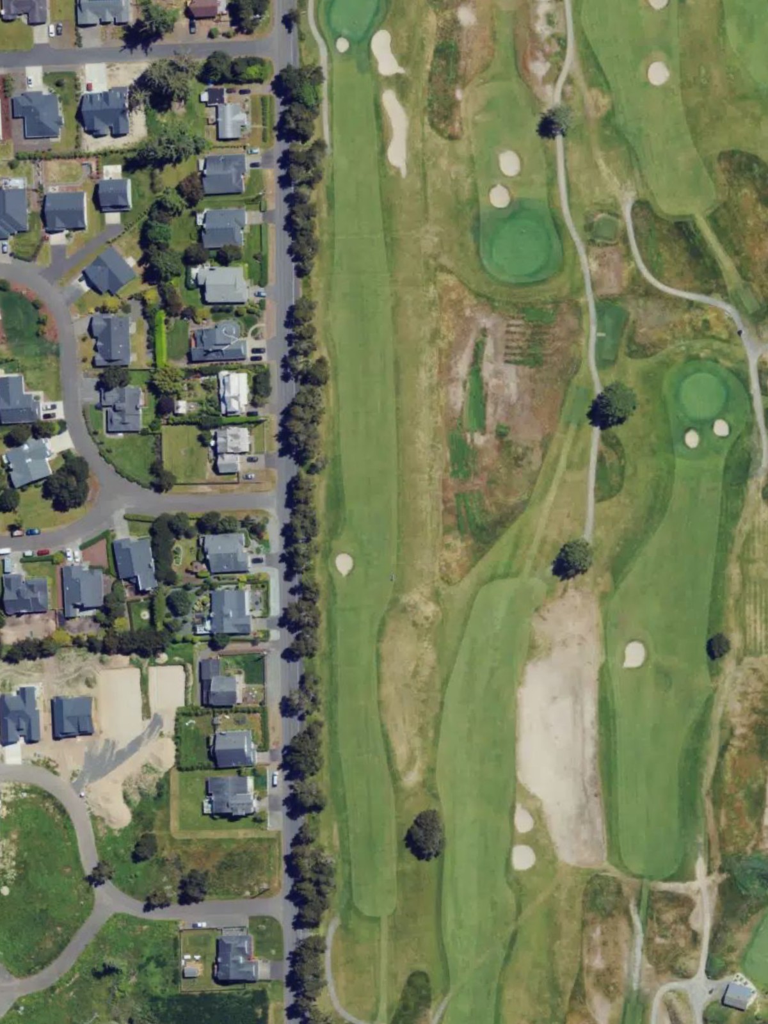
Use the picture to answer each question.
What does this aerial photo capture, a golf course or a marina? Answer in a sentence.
This looks like a golf course.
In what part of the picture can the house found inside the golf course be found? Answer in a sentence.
You can find the house found inside the golf course in the bottom right area of the picture.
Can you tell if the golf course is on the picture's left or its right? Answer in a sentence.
It is on the right.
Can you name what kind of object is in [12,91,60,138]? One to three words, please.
house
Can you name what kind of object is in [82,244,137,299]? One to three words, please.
house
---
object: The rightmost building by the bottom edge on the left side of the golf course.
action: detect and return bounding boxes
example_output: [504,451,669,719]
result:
[217,935,258,983]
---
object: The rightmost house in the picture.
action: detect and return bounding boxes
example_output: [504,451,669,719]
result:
[723,984,755,1010]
